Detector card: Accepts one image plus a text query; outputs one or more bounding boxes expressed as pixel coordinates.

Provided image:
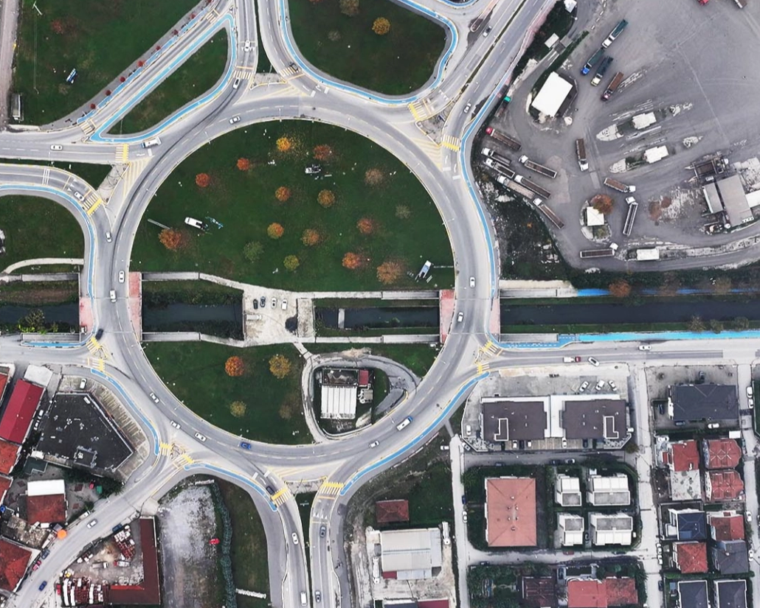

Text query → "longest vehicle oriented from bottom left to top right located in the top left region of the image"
[64,67,79,84]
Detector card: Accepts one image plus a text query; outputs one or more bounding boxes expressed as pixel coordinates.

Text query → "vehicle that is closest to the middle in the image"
[419,260,432,278]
